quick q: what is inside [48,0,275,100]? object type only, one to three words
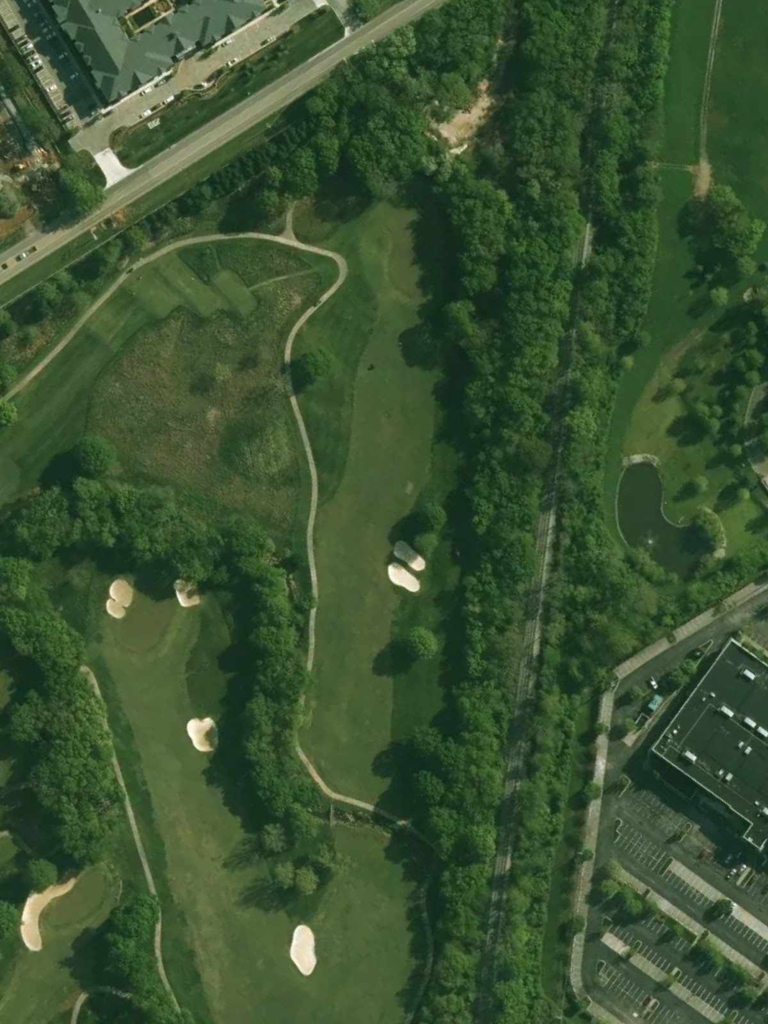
building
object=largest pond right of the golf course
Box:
[617,462,718,581]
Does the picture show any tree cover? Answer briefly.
Yes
